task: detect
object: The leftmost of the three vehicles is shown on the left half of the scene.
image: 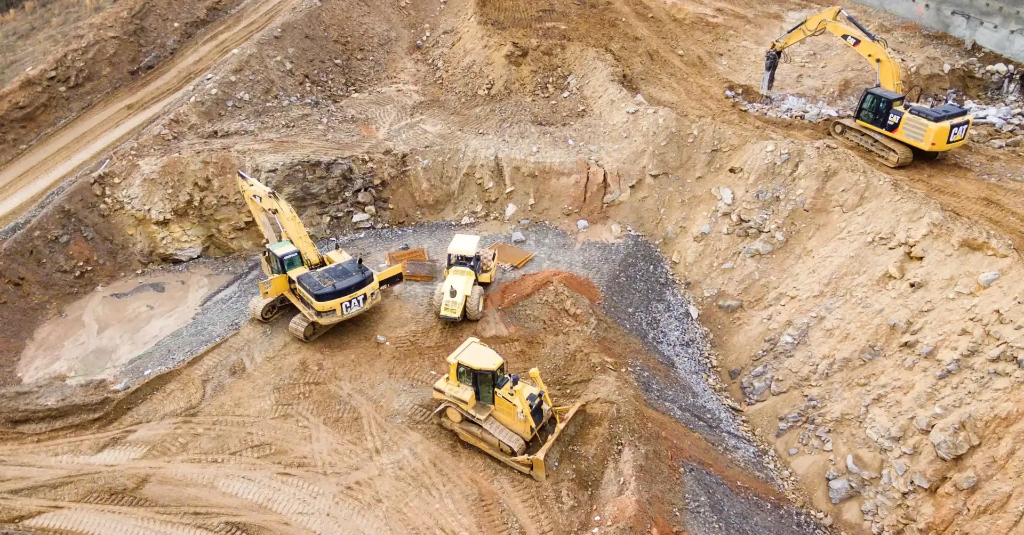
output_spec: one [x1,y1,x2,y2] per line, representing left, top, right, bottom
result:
[233,169,404,345]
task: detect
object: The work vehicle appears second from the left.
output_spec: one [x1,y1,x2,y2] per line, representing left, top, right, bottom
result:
[428,335,586,483]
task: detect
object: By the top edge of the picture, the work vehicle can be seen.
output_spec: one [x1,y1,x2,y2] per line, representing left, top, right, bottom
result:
[763,5,972,164]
